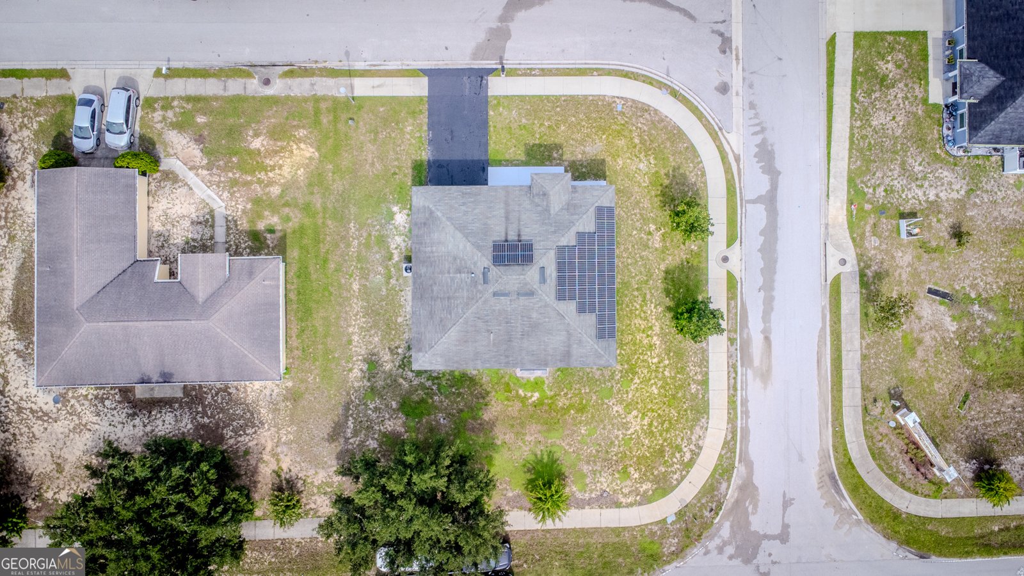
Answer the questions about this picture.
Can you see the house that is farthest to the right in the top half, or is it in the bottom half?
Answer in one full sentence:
Seen from above, the house that is farthest to the right lies in the top half of the view.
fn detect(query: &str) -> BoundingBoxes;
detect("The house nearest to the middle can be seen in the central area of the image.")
[411,172,617,371]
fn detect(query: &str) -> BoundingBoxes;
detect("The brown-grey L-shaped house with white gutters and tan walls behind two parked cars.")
[34,167,291,388]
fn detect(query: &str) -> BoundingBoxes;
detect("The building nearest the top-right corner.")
[940,0,1024,148]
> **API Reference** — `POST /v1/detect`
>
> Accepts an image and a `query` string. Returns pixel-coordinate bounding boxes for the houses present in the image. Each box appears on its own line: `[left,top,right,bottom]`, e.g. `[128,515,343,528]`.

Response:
[411,172,617,371]
[940,0,1024,148]
[34,167,291,388]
